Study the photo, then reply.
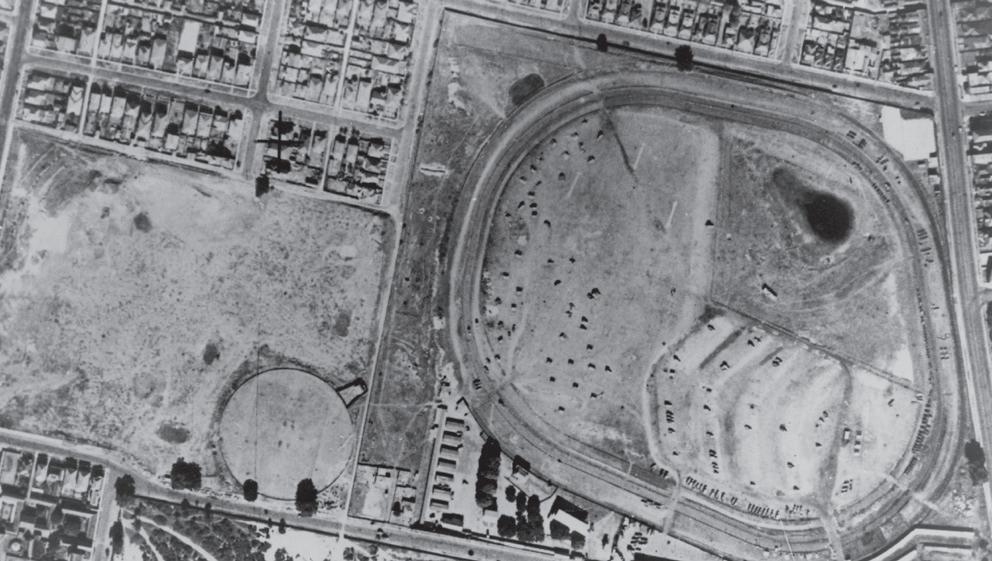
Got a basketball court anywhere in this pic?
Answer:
No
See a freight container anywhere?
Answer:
No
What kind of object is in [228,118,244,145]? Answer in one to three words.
house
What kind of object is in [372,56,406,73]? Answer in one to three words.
house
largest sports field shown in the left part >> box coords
[220,366,354,500]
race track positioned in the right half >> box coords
[435,69,968,561]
